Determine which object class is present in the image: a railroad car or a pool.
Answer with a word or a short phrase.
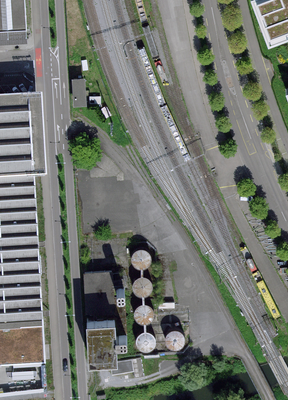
railroad car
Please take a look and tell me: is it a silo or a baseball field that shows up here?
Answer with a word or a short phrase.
silo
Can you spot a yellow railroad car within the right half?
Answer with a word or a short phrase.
Yes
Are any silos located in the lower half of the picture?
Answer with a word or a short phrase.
Yes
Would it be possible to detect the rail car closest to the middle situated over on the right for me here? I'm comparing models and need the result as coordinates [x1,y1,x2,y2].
[162,105,190,157]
